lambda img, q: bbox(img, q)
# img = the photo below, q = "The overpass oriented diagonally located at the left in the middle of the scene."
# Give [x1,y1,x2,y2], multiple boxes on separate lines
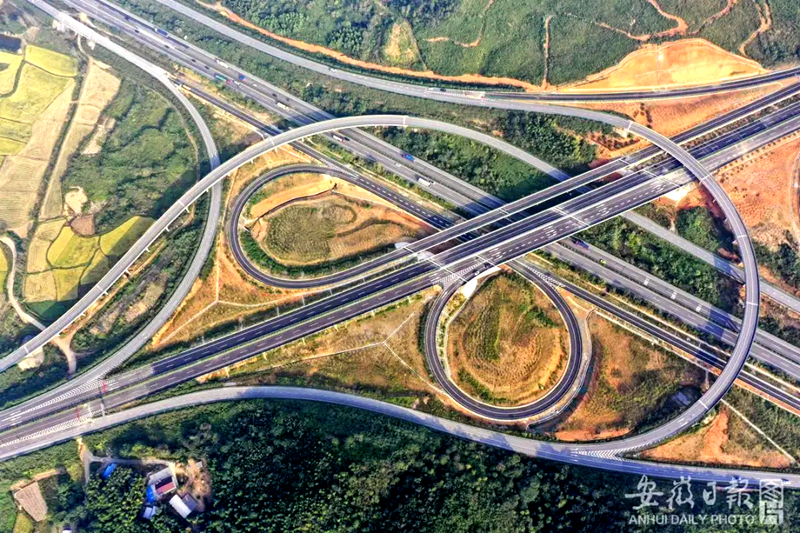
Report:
[0,115,406,372]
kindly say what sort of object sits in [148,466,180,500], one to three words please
house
